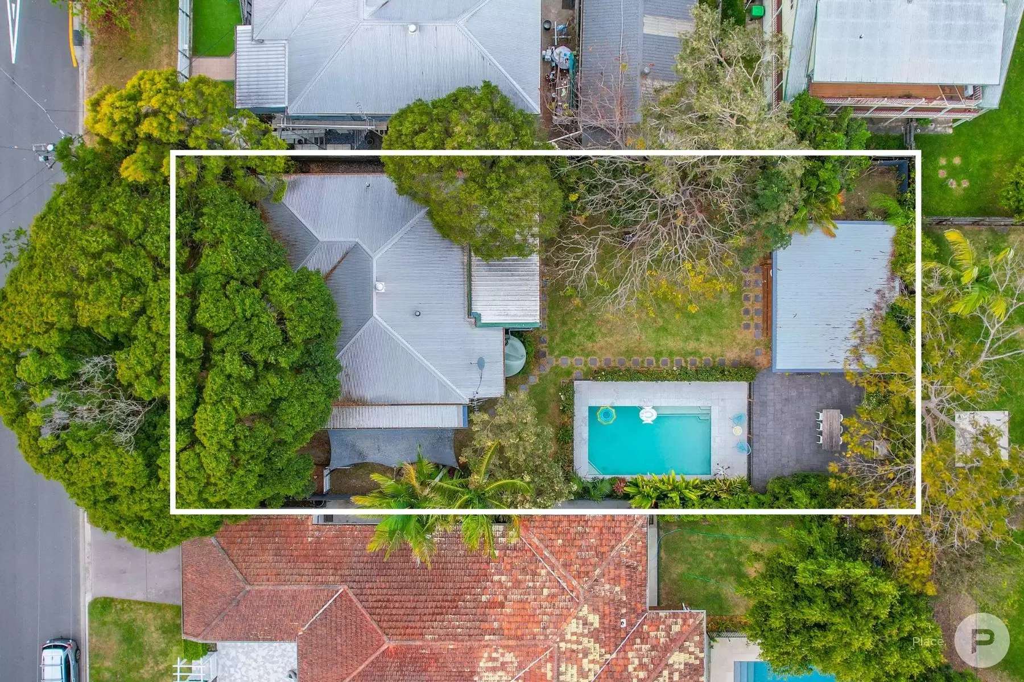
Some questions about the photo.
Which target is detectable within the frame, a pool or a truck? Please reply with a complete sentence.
Visible in the photo is a pool.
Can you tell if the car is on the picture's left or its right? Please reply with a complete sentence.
The car appears in the left half of the scene.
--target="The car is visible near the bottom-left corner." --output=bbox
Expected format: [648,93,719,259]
[35,634,87,682]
